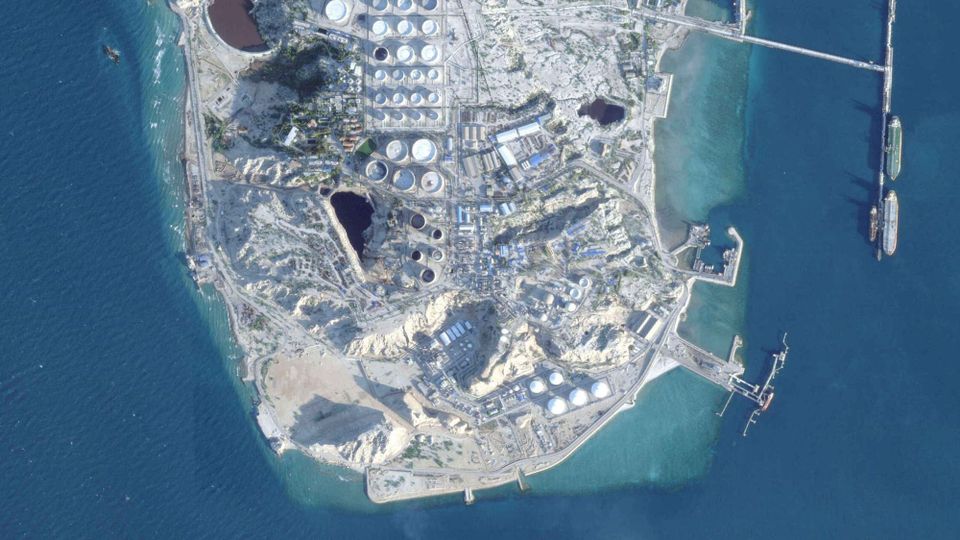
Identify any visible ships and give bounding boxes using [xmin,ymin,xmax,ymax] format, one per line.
[869,205,877,241]
[762,393,773,410]
[887,116,901,180]
[102,46,120,64]
[882,189,898,255]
